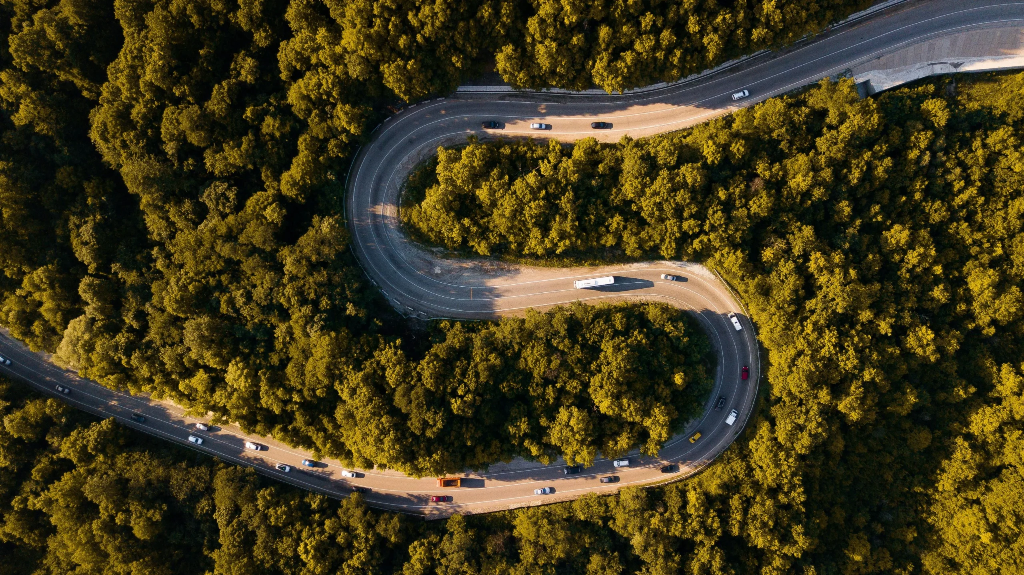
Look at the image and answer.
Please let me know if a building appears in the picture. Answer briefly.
No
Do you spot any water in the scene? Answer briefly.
No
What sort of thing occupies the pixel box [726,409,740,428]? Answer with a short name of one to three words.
vehicle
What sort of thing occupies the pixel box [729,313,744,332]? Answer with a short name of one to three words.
vehicle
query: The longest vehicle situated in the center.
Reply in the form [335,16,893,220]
[573,275,616,289]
